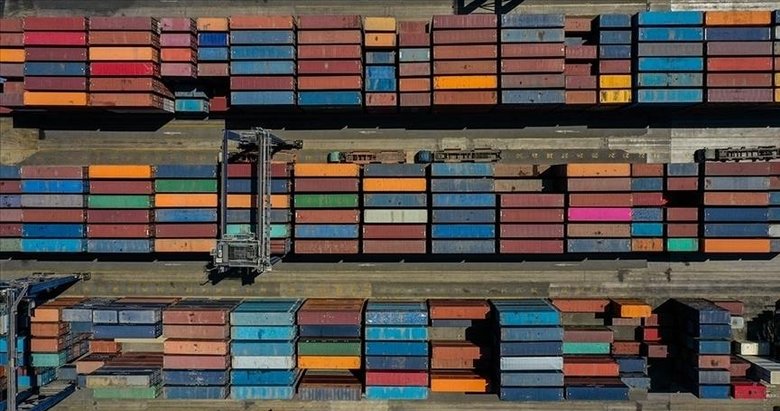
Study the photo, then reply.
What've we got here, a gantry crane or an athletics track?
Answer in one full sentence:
The one in the frame is a gantry crane.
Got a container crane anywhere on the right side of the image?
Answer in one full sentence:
No, on the right side of the image there is no container crane.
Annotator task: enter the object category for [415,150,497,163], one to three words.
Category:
vehicle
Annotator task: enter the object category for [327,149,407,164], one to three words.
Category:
vehicle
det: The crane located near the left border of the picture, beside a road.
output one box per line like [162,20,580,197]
[0,275,88,411]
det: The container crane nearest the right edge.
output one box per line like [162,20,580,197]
[211,128,304,273]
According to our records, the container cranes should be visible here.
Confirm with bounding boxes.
[0,275,88,411]
[211,128,304,273]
